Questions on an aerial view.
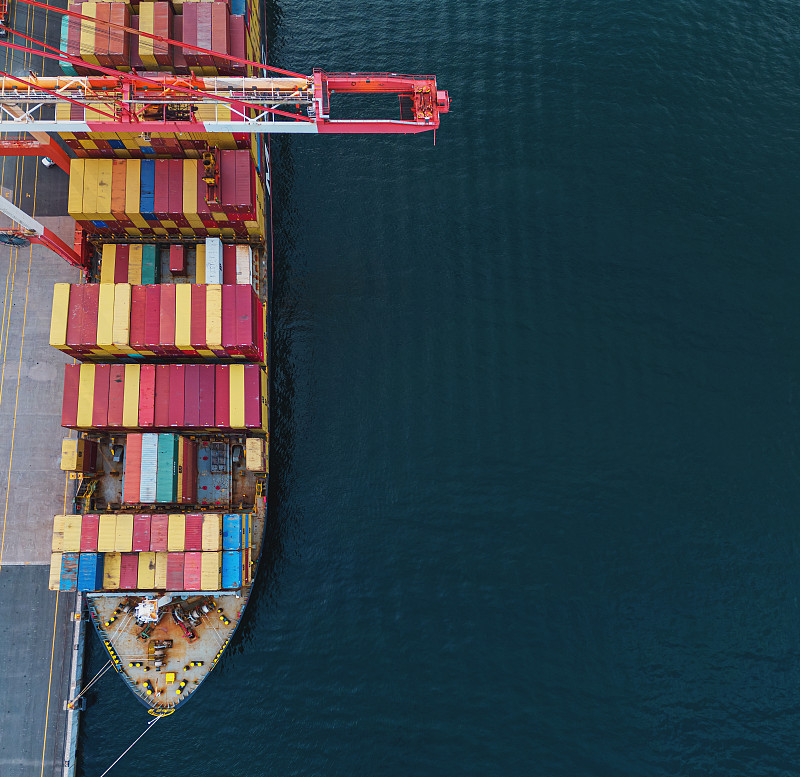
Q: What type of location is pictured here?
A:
port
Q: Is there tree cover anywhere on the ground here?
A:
No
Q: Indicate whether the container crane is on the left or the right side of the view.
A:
left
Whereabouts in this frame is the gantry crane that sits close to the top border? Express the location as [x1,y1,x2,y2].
[0,0,455,282]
